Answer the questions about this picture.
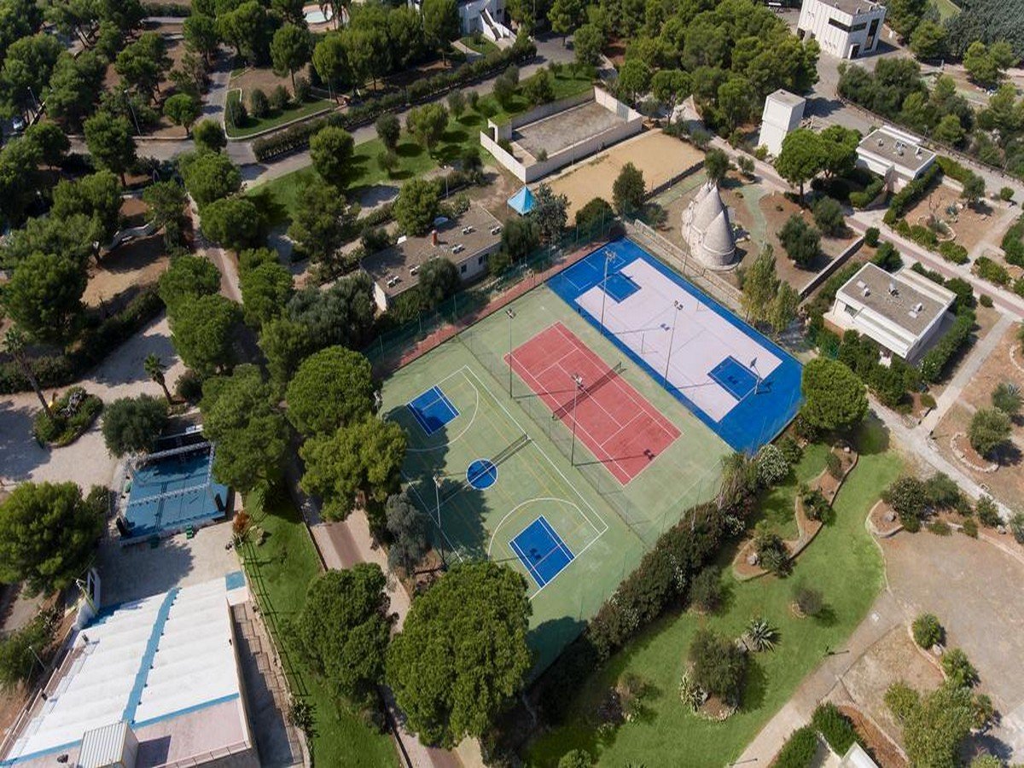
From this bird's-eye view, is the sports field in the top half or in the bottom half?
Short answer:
top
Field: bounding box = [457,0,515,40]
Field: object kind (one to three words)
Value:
house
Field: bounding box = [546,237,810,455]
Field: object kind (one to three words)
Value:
basketball court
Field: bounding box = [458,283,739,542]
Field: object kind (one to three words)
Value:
tennis court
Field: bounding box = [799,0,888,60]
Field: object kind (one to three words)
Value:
building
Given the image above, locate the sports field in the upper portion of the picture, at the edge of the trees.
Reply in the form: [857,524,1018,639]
[537,131,703,225]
